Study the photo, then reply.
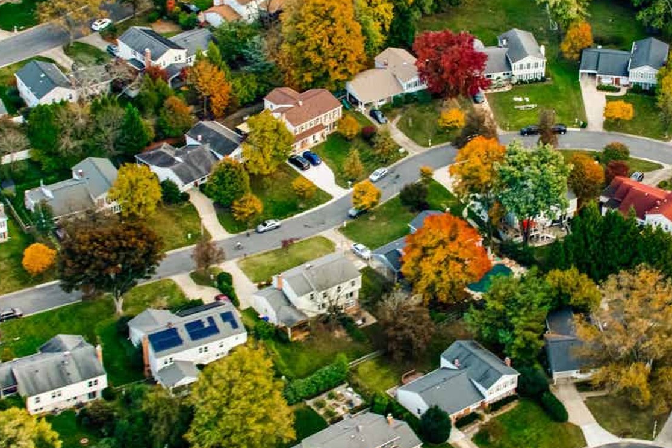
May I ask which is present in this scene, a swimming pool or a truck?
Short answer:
swimming pool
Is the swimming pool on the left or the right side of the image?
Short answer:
right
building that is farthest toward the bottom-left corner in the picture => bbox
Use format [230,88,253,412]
[0,320,107,420]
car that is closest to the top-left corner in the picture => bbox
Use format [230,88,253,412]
[88,17,114,32]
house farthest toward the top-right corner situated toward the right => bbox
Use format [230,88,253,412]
[579,26,663,94]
